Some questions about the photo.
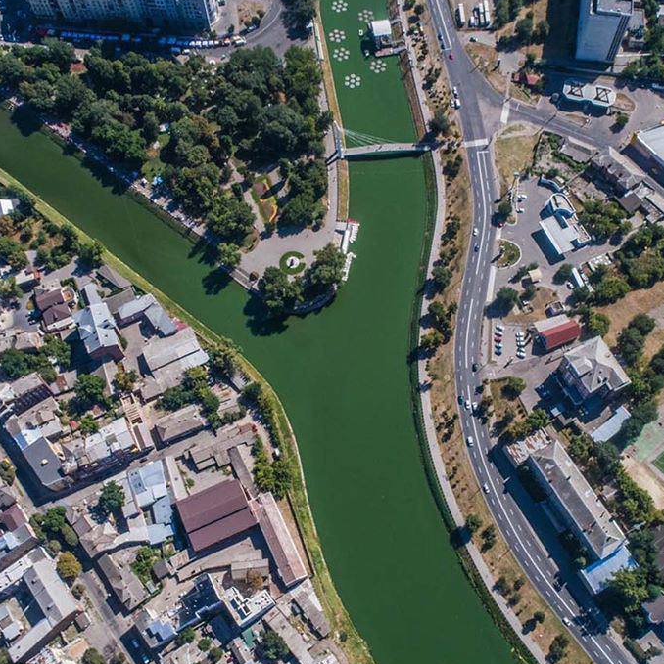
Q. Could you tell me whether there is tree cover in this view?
Yes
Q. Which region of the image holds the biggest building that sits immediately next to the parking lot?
bottom right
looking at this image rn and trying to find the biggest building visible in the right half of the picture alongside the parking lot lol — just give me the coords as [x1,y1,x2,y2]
[526,440,626,563]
